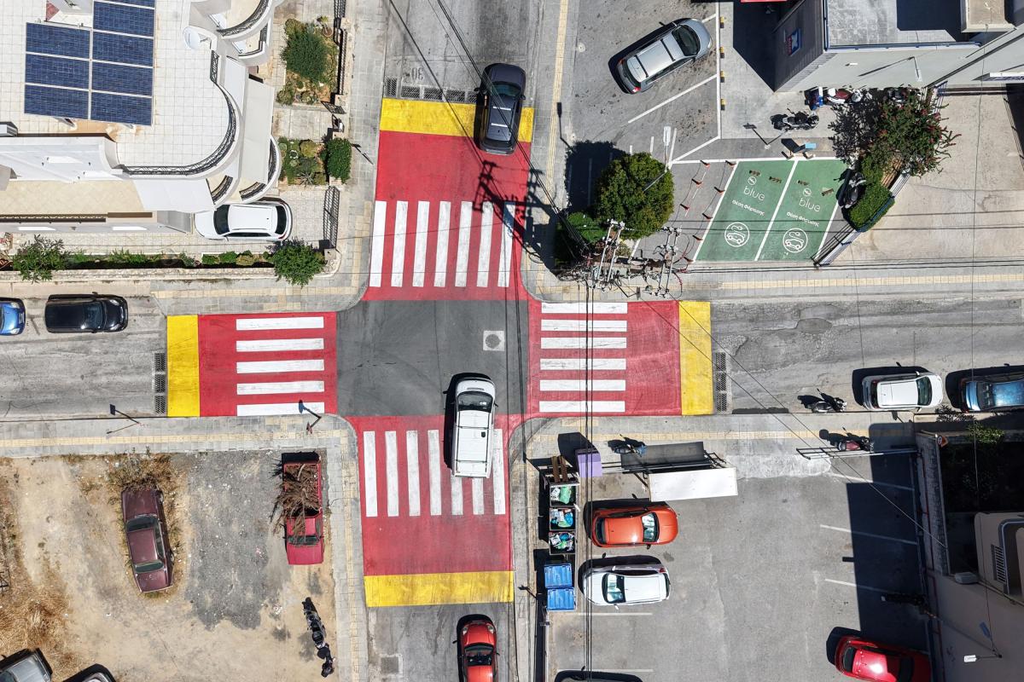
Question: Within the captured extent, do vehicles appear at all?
Yes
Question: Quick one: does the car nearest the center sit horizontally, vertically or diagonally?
vertically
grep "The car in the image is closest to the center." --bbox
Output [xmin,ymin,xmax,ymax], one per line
[449,376,500,479]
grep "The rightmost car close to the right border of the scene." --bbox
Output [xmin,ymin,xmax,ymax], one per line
[955,373,1024,412]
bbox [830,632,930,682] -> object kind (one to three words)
car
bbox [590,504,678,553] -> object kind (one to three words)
car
